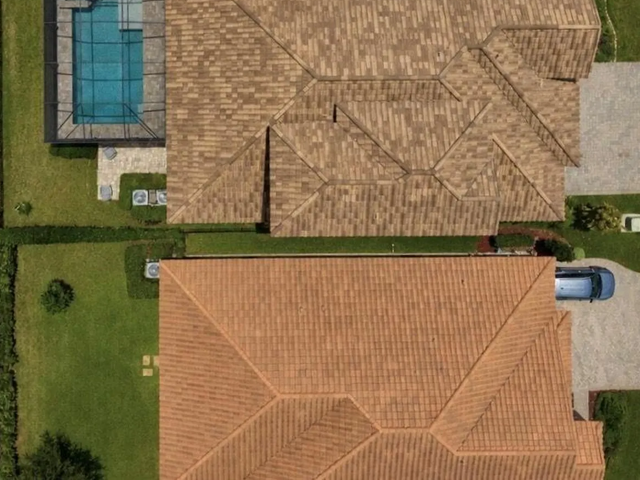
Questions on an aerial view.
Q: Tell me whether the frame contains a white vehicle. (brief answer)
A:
No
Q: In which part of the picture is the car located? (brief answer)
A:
right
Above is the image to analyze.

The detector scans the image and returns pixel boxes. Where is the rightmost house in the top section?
[163,0,602,238]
